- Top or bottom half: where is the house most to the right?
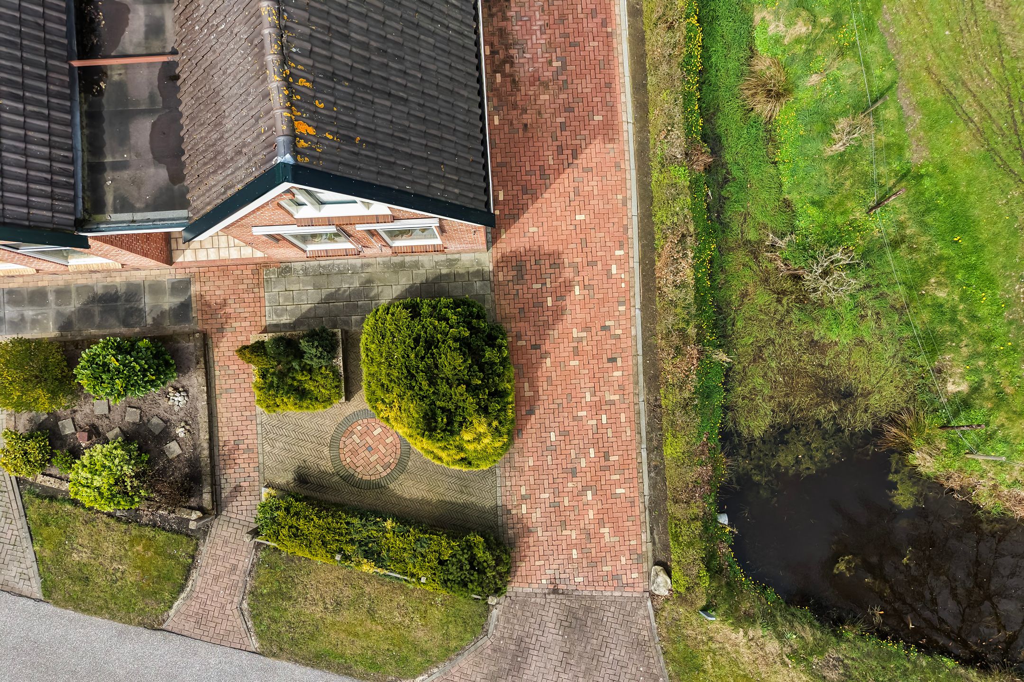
top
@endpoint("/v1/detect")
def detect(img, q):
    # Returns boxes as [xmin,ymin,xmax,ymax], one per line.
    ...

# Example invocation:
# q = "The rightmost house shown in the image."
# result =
[172,0,504,262]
